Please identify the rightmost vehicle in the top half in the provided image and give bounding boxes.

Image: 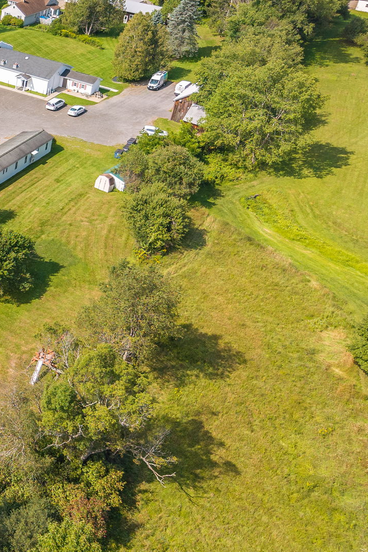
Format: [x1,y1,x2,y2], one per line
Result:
[178,74,194,90]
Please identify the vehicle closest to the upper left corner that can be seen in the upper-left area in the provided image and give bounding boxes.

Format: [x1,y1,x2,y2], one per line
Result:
[47,95,65,108]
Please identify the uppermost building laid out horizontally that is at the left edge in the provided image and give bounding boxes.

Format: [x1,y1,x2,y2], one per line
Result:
[1,0,60,26]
